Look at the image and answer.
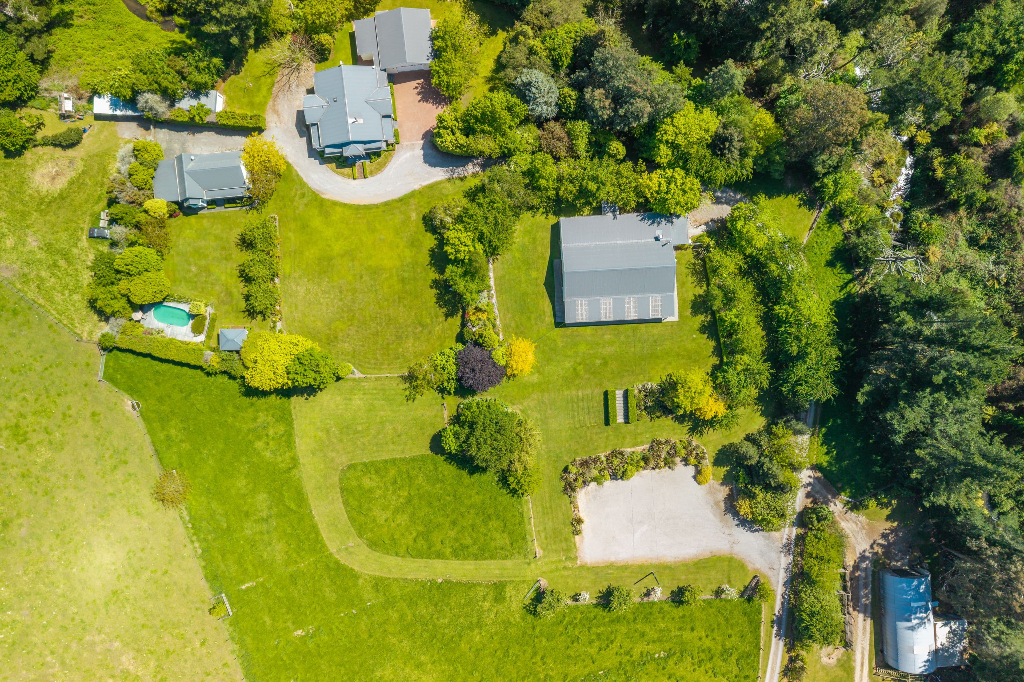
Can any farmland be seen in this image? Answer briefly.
Yes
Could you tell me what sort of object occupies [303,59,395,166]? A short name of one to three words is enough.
house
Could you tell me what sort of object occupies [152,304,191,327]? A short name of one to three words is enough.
swimming pool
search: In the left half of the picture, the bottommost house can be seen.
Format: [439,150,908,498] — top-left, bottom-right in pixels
[153,150,250,211]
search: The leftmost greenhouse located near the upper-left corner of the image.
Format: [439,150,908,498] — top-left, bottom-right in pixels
[59,92,77,117]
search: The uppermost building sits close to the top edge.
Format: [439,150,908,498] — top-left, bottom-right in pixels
[354,7,436,87]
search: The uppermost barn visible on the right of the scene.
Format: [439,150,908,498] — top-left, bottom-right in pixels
[554,202,689,323]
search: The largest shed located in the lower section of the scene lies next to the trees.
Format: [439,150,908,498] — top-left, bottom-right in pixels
[879,569,969,672]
